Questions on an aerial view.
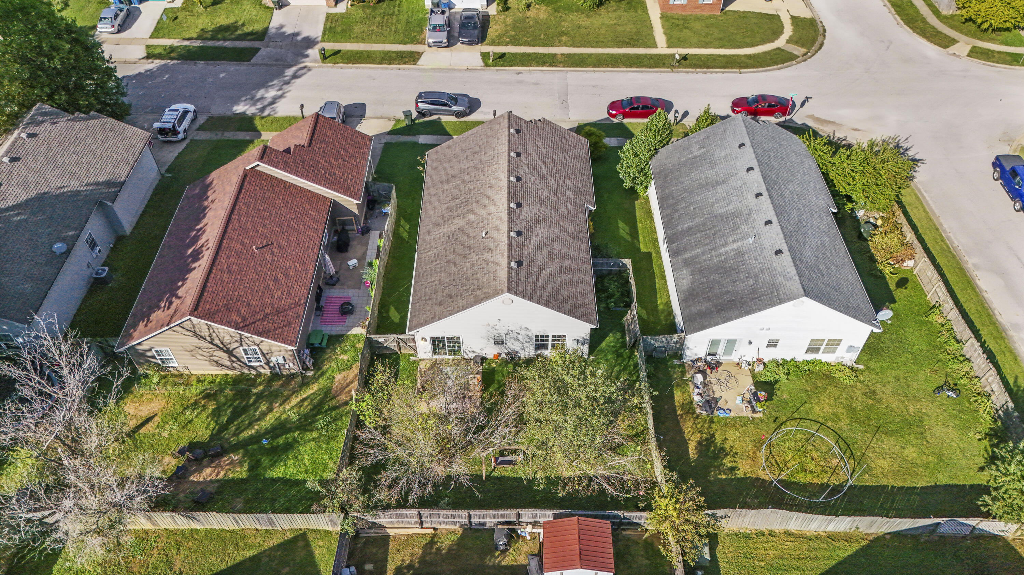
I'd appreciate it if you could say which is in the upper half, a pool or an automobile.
automobile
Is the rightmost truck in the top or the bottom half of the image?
top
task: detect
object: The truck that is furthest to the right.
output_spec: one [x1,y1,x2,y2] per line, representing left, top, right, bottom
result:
[992,157,1024,213]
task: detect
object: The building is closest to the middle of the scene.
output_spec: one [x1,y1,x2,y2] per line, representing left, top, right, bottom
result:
[405,112,601,359]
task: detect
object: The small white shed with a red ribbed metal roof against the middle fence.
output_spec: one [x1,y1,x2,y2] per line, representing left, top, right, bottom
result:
[543,515,616,575]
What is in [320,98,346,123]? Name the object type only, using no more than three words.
car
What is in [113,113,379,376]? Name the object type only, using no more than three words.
house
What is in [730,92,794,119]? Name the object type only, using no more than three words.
car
